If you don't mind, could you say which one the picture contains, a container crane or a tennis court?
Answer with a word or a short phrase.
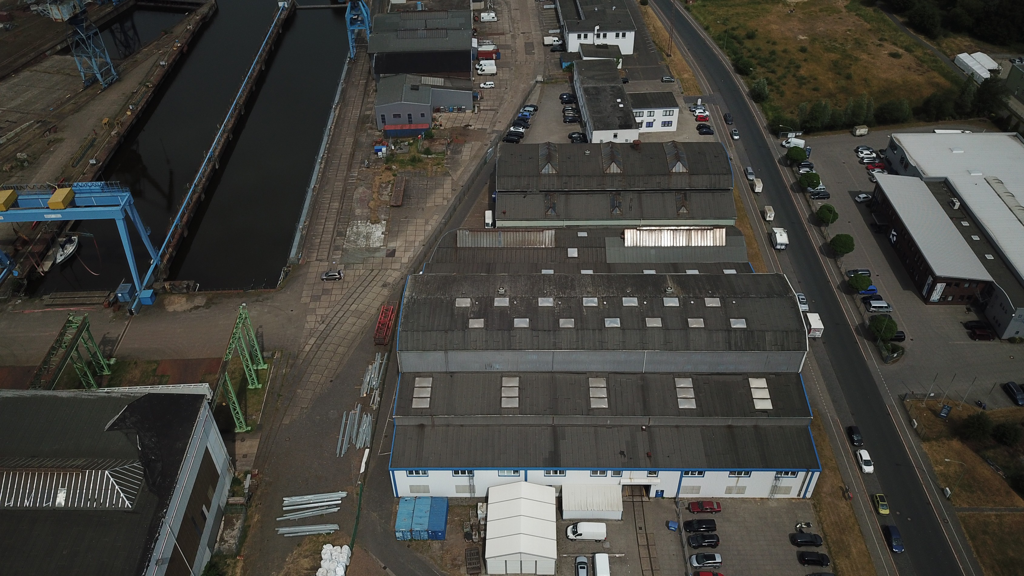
container crane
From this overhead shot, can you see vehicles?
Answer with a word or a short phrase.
Yes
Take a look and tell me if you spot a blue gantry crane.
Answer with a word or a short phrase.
Yes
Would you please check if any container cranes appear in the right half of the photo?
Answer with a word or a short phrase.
No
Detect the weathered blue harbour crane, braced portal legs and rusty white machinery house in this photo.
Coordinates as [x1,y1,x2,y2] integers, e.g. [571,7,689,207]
[32,0,117,90]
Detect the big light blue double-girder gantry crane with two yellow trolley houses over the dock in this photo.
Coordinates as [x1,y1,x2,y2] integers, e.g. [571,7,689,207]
[0,175,163,298]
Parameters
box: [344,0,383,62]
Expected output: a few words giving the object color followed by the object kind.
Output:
blue container crane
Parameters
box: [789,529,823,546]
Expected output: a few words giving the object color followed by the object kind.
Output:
black car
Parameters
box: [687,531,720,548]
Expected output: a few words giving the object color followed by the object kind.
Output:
black car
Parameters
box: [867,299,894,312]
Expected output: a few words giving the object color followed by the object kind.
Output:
gray vehicle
